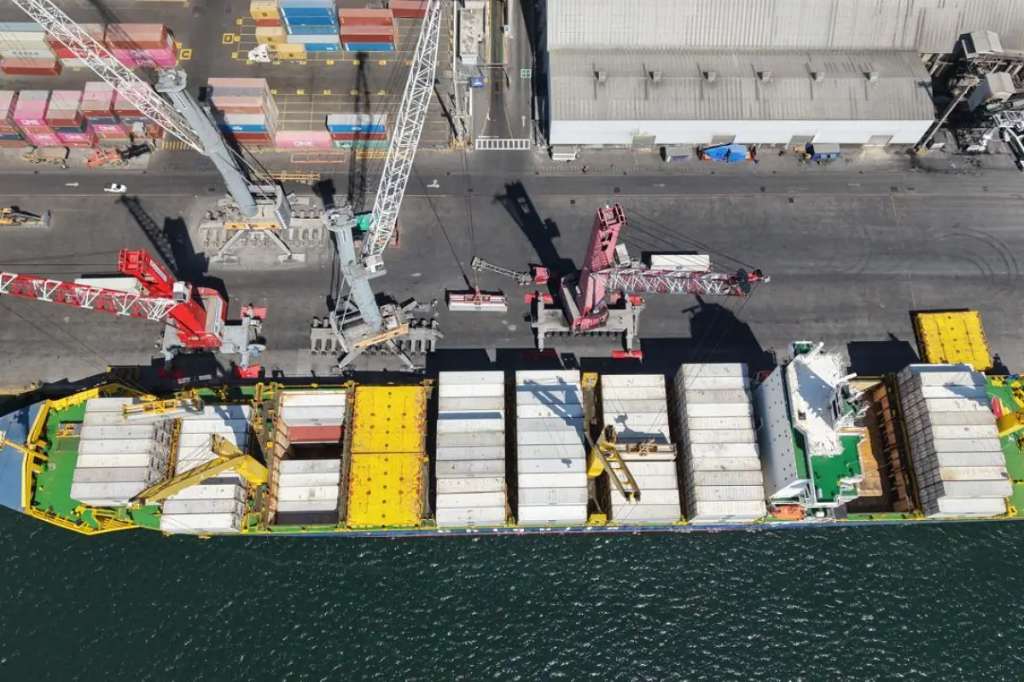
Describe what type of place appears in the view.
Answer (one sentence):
This image shows a port.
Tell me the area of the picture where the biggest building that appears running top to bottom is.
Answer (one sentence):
The biggest building that appears running top to bottom sits in the top section of the image.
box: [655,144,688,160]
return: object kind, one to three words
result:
vehicle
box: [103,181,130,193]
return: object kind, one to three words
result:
vehicle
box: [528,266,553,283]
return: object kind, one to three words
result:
work vehicle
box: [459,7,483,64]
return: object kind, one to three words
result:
building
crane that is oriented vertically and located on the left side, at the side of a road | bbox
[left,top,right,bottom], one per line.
[309,0,478,378]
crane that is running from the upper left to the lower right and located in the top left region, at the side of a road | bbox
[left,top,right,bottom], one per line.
[16,0,320,266]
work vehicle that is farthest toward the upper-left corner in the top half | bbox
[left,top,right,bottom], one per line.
[20,144,67,166]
